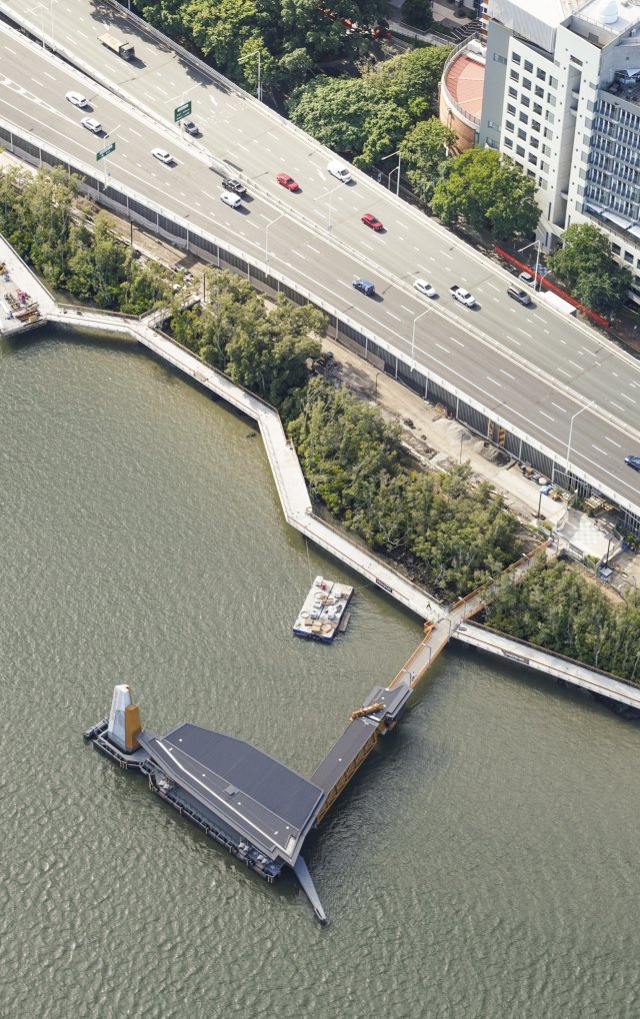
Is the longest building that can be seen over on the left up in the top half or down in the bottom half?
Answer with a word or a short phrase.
bottom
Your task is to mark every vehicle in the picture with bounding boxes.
[67,94,90,108]
[328,160,353,181]
[623,454,640,473]
[414,278,439,295]
[183,121,202,135]
[450,286,477,306]
[152,149,175,164]
[102,36,132,58]
[518,266,541,285]
[277,175,301,191]
[353,281,376,297]
[507,285,533,304]
[82,118,105,134]
[222,177,248,195]
[220,191,245,209]
[361,215,385,231]
[542,288,581,317]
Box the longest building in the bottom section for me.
[92,722,324,887]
